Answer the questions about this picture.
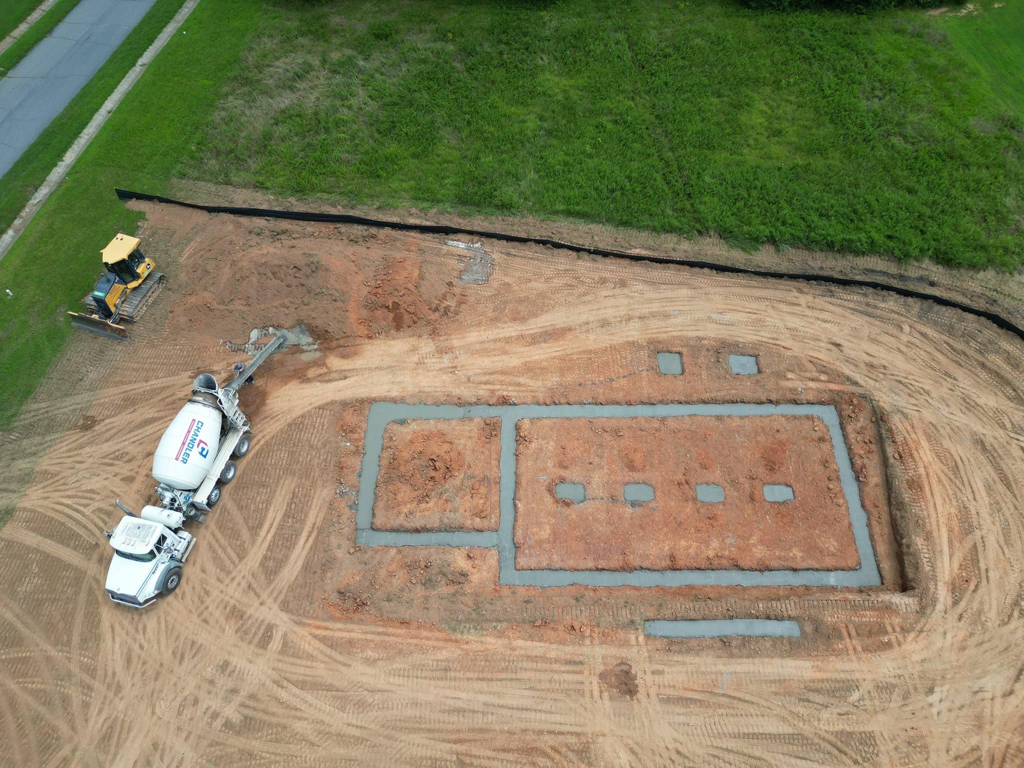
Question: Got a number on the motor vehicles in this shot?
2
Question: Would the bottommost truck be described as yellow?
No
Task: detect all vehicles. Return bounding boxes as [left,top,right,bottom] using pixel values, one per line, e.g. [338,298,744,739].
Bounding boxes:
[110,337,282,608]
[68,232,170,342]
